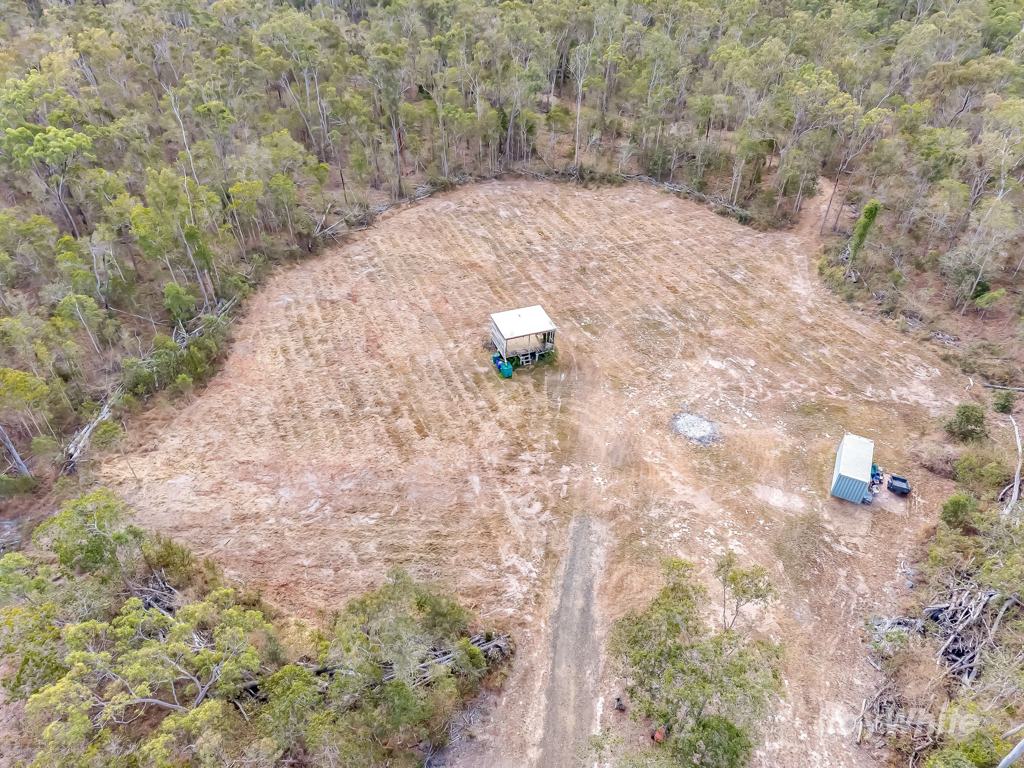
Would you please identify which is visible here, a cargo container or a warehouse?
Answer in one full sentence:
There is a cargo container in the scene.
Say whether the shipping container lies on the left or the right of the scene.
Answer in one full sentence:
The shipping container is on the right side of the image.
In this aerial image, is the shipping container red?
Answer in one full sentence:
No, the shipping container is white.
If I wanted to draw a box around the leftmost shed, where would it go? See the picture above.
[490,305,557,365]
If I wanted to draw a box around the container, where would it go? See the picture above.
[830,432,874,504]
